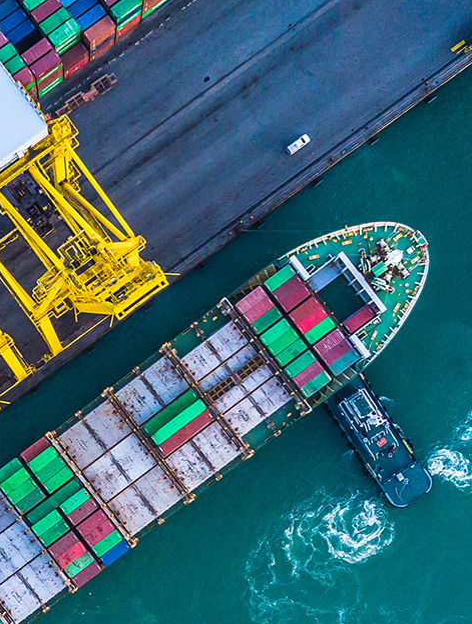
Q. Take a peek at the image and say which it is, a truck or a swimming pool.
truck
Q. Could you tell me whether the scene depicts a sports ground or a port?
port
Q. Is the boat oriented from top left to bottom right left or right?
right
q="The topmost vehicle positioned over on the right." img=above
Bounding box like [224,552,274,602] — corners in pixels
[285,133,311,155]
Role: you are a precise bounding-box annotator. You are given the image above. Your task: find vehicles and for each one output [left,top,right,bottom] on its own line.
[285,133,311,155]
[46,71,120,125]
